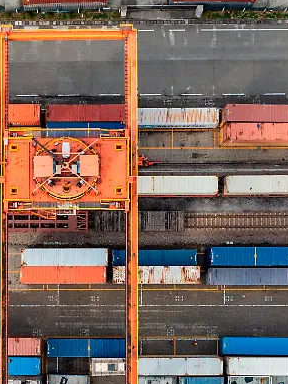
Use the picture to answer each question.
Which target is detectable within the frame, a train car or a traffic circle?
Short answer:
train car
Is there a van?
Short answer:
No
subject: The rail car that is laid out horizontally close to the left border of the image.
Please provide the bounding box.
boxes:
[9,211,93,232]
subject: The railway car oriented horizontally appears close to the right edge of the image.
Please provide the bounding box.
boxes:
[218,177,288,195]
